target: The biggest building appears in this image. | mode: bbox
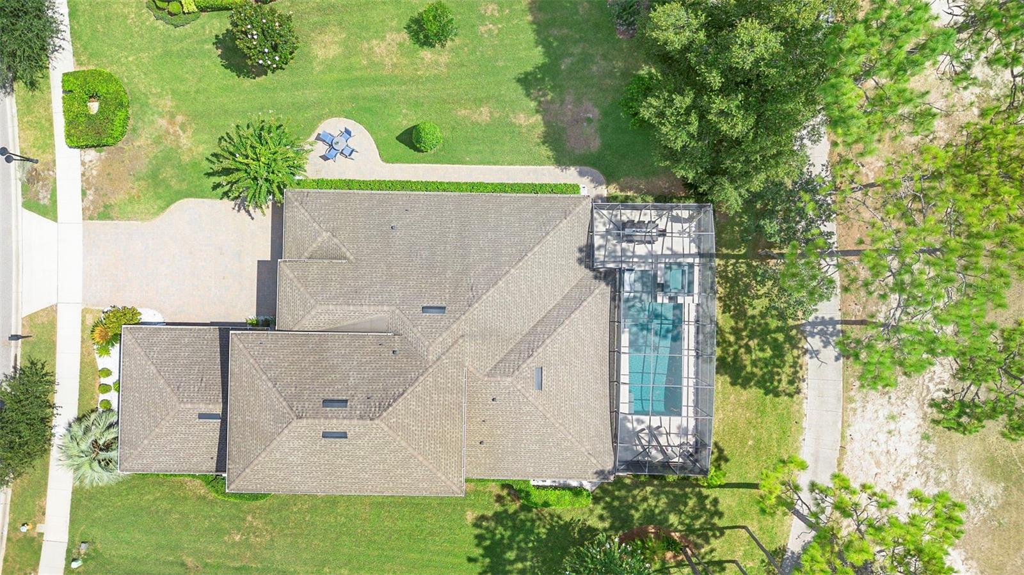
[117,189,618,498]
